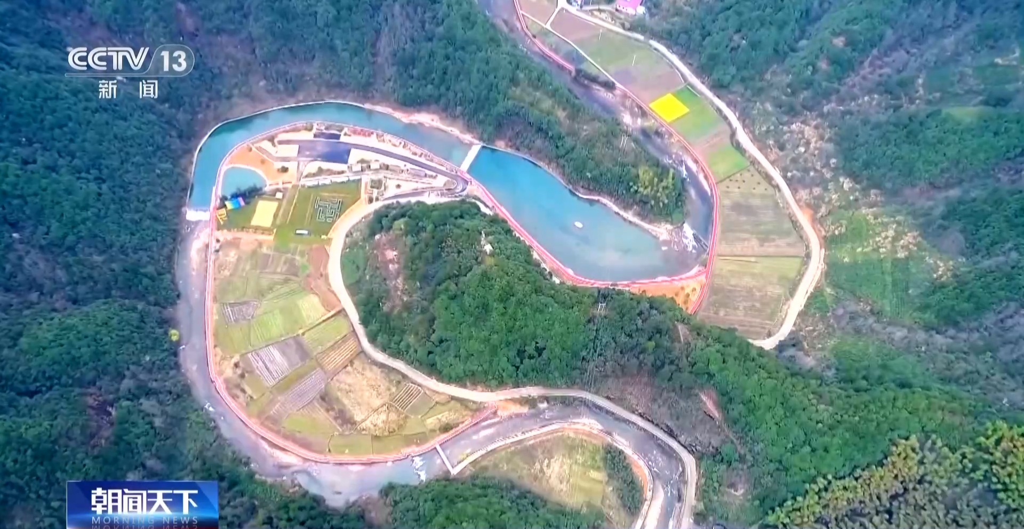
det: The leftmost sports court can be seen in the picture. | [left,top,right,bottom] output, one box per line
[251,200,279,227]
